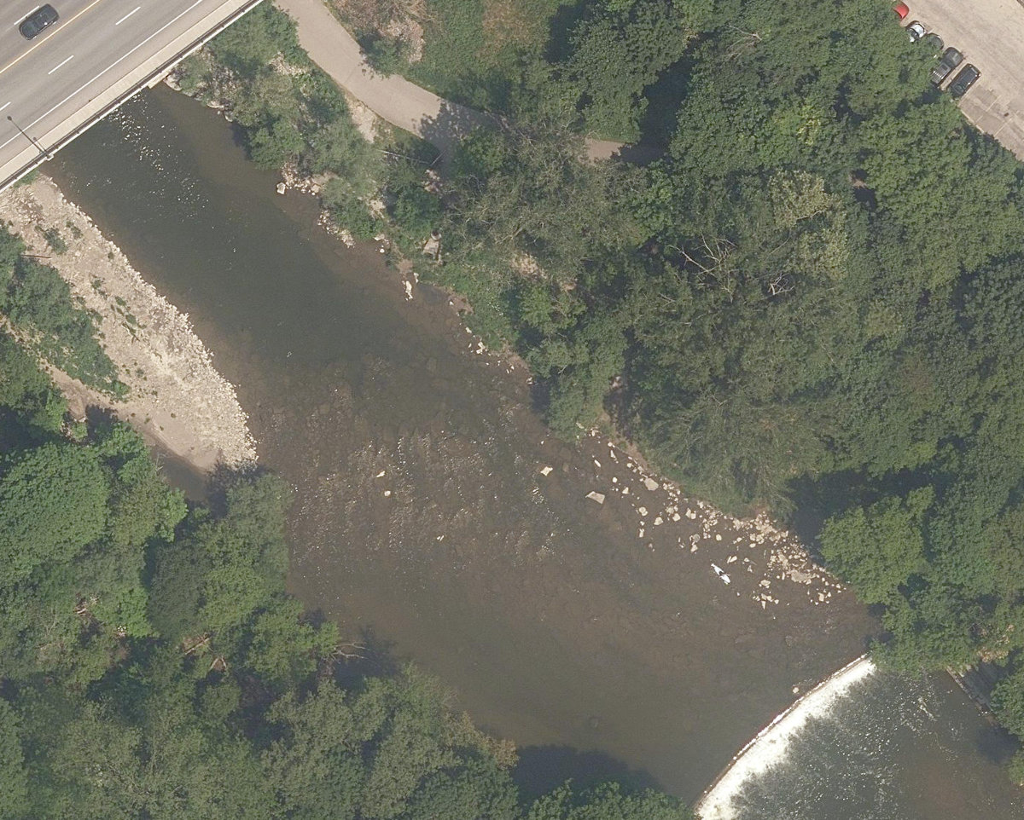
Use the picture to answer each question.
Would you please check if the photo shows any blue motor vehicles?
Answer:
No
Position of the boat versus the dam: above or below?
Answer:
above it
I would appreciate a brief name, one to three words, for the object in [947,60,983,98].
car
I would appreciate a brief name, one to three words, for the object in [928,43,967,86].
truck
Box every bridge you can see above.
[0,0,269,194]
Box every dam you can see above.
[690,647,889,820]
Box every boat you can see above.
[711,564,731,585]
